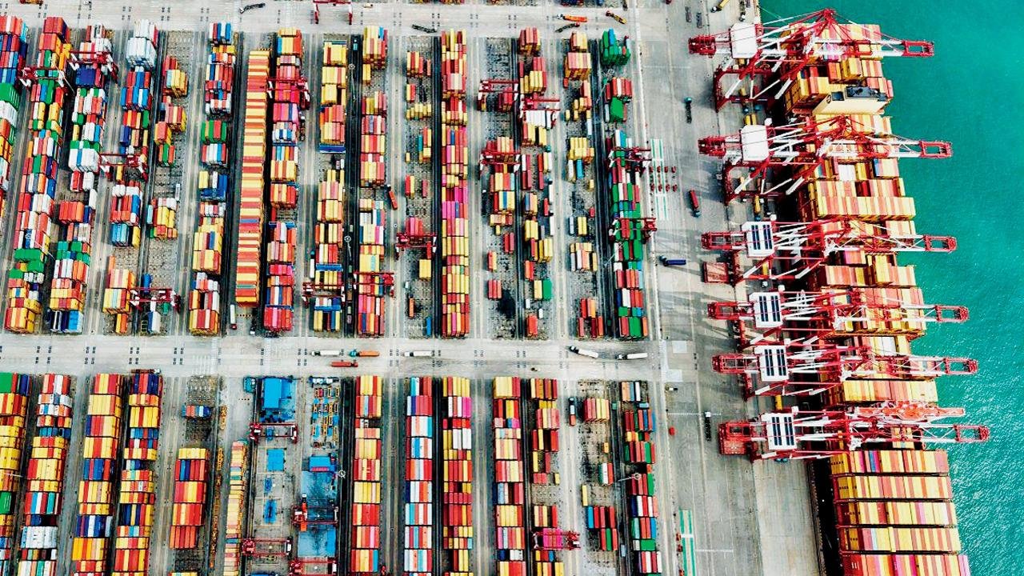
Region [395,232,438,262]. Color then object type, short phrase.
red container crane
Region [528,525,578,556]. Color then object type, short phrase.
red container crane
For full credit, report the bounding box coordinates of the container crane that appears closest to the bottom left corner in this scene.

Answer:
[242,531,293,562]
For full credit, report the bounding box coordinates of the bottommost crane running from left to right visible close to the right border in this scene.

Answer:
[717,408,992,465]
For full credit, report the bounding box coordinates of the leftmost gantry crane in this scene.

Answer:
[26,66,78,99]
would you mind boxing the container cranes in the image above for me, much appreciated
[290,501,338,531]
[603,147,650,178]
[249,421,297,448]
[242,531,293,562]
[269,75,312,108]
[517,98,560,130]
[707,287,972,352]
[300,281,345,311]
[350,271,393,300]
[26,66,78,99]
[717,408,992,465]
[313,0,353,24]
[698,115,955,198]
[701,214,960,288]
[607,216,655,246]
[288,554,337,576]
[70,49,120,83]
[712,340,981,402]
[100,152,150,184]
[528,525,578,556]
[130,286,181,315]
[688,7,936,101]
[395,232,438,262]
[477,150,520,181]
[476,79,518,111]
